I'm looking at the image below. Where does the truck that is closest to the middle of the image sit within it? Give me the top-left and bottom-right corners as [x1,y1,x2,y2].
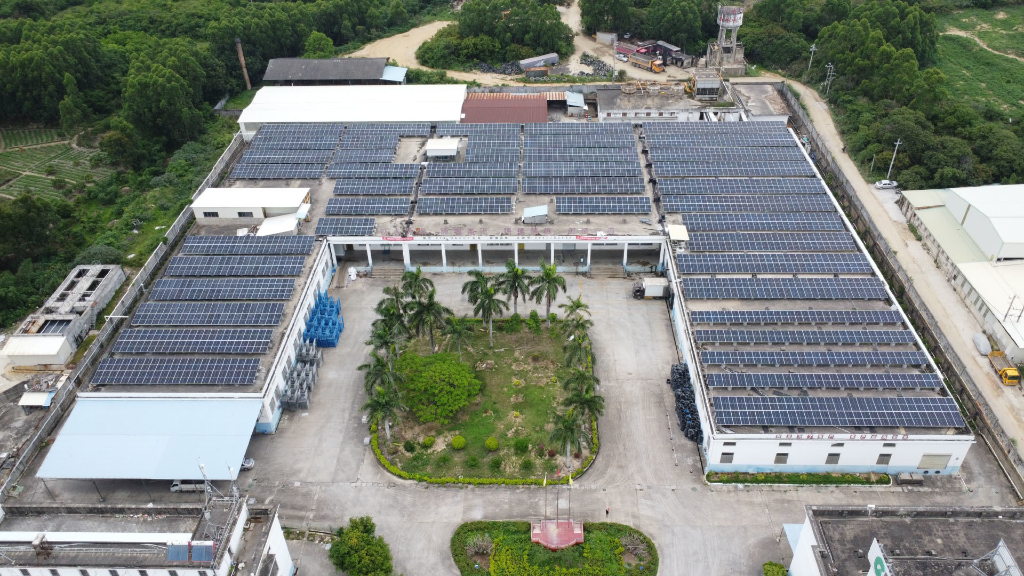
[633,276,667,298]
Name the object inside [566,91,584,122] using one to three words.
shed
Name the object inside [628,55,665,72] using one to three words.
vehicle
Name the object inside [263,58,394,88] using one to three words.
shed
